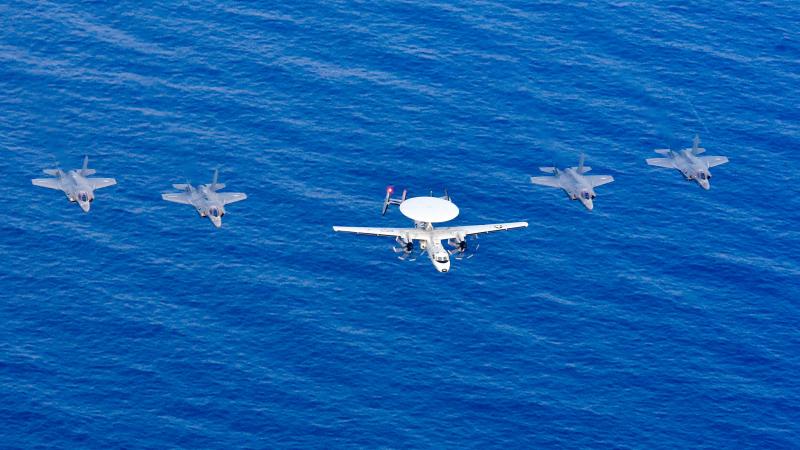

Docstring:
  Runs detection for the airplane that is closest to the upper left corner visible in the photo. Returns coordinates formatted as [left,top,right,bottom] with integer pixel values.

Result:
[33,156,116,211]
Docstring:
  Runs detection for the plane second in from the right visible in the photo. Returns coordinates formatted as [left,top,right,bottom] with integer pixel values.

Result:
[532,154,615,209]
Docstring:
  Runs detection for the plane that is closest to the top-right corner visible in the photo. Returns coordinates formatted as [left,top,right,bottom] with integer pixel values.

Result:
[647,135,730,189]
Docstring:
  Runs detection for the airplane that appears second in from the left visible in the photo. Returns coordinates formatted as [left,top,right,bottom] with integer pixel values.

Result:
[163,170,248,227]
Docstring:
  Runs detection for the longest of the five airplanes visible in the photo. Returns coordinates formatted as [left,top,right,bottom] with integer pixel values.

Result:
[334,187,529,273]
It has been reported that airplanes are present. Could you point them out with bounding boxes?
[532,154,615,209]
[33,156,116,211]
[163,170,248,227]
[647,135,730,189]
[334,187,529,273]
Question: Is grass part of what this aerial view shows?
No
